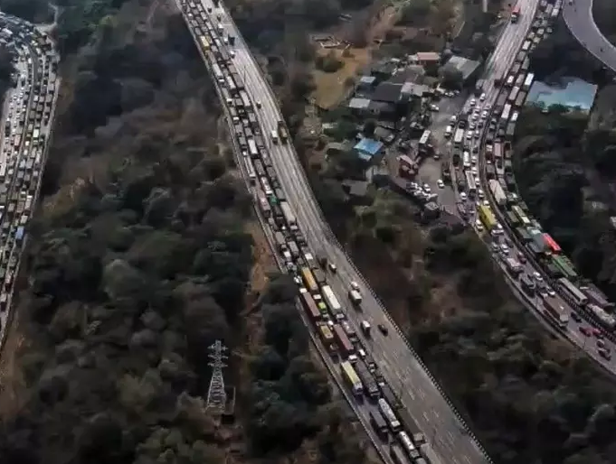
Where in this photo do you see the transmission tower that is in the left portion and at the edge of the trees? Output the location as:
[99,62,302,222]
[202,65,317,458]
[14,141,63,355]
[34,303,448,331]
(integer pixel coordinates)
[203,338,238,419]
